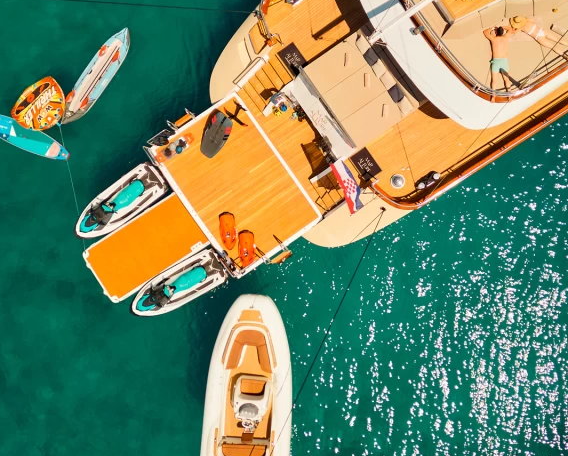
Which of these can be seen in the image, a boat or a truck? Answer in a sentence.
It is a boat that can be seen here.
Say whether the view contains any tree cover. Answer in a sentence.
No, the picture contains no tree cover.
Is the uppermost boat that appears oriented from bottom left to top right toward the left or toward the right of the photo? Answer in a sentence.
You can find the uppermost boat that appears oriented from bottom left to top right on the left side of the picture.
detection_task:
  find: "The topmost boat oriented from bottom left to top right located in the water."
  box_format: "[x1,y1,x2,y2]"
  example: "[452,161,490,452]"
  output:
[66,28,130,124]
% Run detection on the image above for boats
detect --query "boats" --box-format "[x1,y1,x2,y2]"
[197,295,292,456]
[138,245,229,311]
[138,0,568,279]
[66,28,130,124]
[83,159,170,232]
